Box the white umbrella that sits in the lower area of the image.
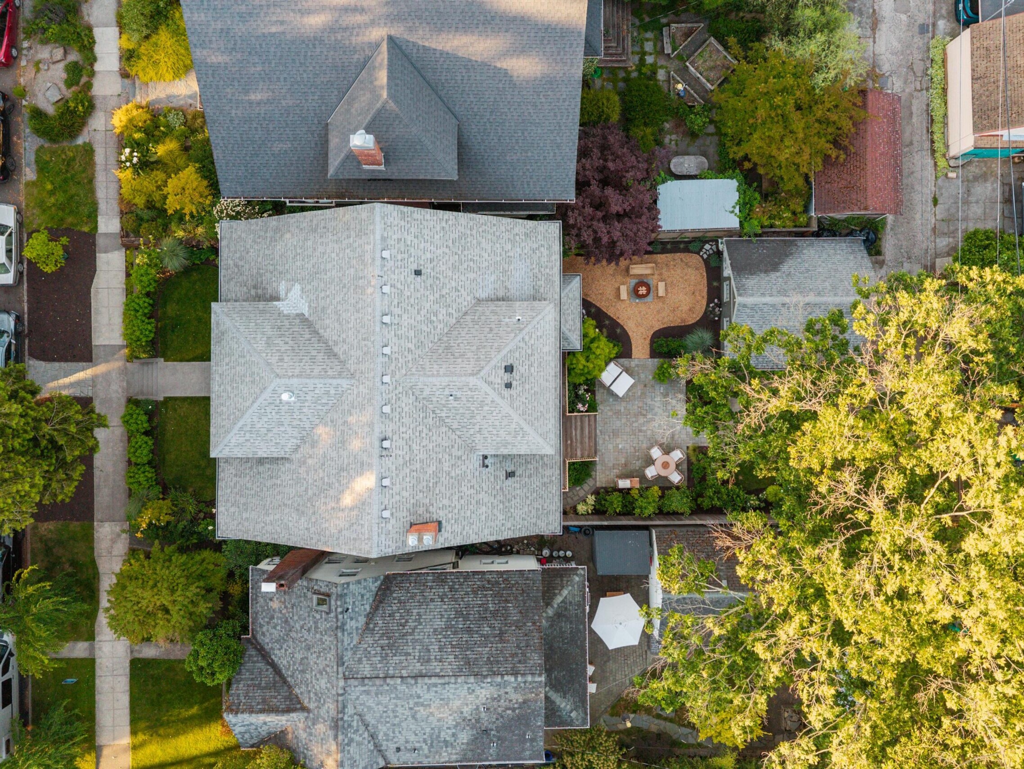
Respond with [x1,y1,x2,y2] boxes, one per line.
[591,593,645,649]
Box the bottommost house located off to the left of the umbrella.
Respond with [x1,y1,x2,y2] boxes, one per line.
[222,548,589,769]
